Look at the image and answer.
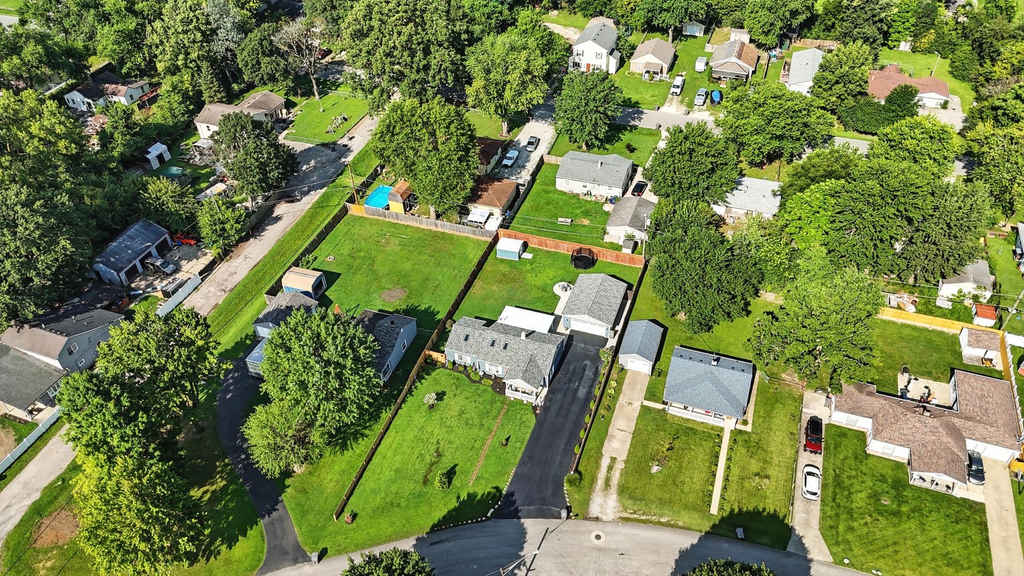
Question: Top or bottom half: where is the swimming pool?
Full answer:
The top half of the photo is where the swimming pool is.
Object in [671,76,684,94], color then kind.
white vehicle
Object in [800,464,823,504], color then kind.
white car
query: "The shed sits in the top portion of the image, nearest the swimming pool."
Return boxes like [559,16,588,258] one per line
[388,184,413,213]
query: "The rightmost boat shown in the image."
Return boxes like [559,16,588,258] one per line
[709,89,722,107]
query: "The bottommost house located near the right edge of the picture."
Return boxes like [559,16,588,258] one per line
[832,371,1022,500]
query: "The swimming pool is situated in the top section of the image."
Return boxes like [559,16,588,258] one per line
[367,186,396,211]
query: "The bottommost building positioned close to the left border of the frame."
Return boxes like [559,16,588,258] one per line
[0,346,74,421]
